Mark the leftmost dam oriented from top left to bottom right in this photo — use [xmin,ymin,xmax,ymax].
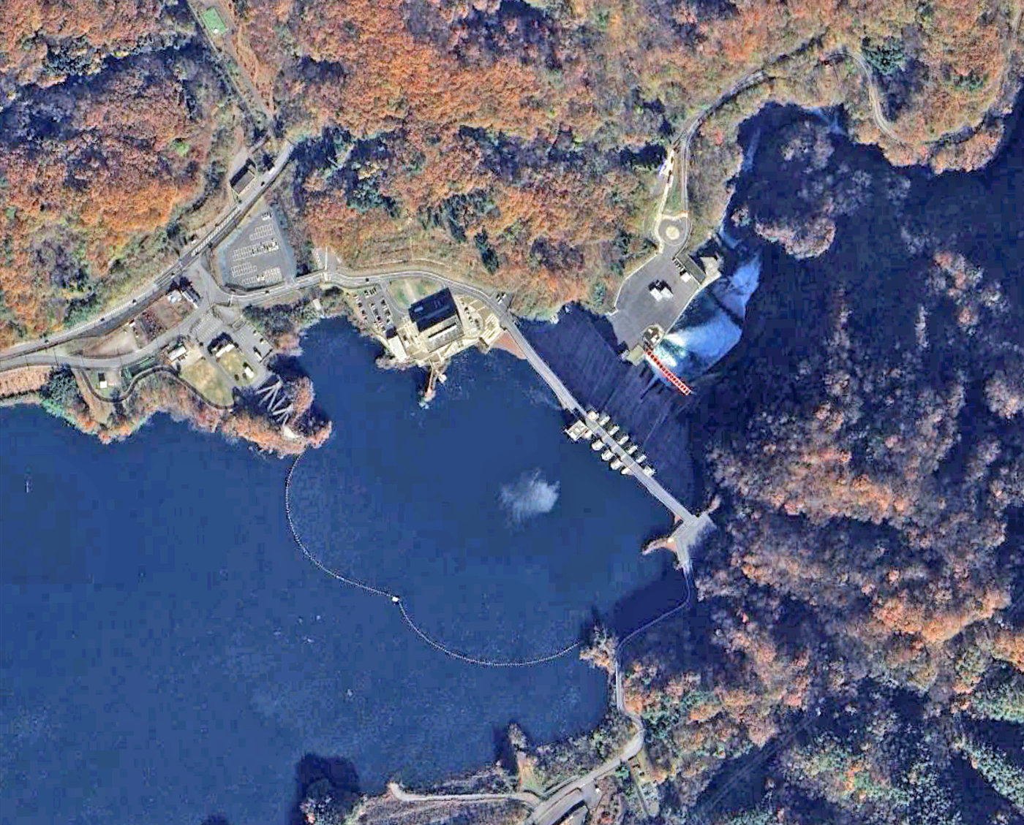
[496,305,708,522]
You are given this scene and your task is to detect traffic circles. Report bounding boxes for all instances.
[656,214,689,257]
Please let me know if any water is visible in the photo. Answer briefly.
Yes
